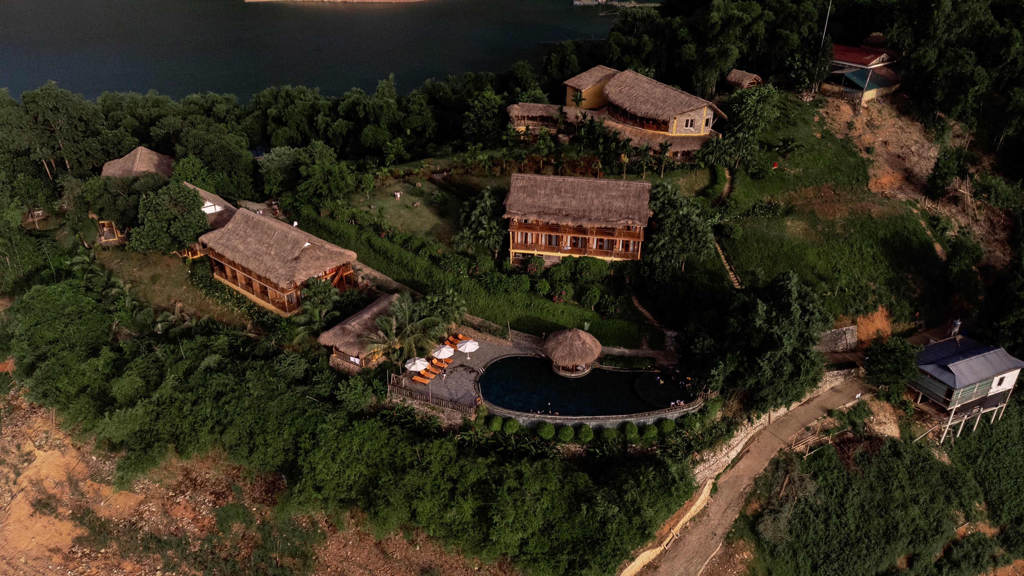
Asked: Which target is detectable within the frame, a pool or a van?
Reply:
pool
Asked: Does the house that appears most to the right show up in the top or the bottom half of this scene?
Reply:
bottom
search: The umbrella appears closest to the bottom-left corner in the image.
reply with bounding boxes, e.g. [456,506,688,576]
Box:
[405,354,428,377]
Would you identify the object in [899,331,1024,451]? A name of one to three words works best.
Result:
house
